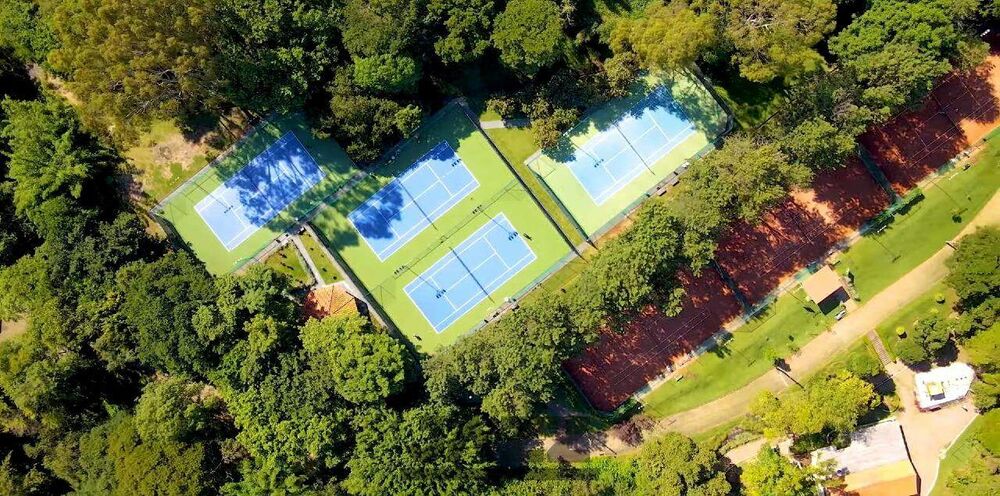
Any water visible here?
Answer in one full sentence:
No, the scene doesn't show any water.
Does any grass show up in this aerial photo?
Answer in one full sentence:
Yes, there's grass in this view.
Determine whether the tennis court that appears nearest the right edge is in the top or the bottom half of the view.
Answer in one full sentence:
You can find the tennis court that appears nearest the right edge in the top half.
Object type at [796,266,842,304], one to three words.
shed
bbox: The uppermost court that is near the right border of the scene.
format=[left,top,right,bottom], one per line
[852,19,1000,197]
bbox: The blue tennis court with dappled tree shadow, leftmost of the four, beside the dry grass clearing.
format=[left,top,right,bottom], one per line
[163,105,357,273]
